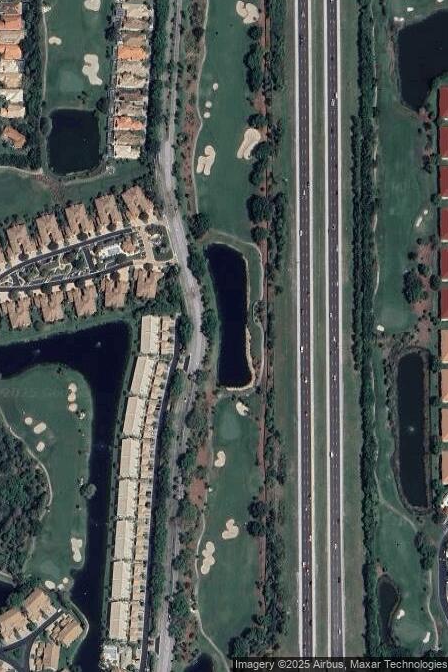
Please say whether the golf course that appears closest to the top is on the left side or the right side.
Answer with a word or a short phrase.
left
